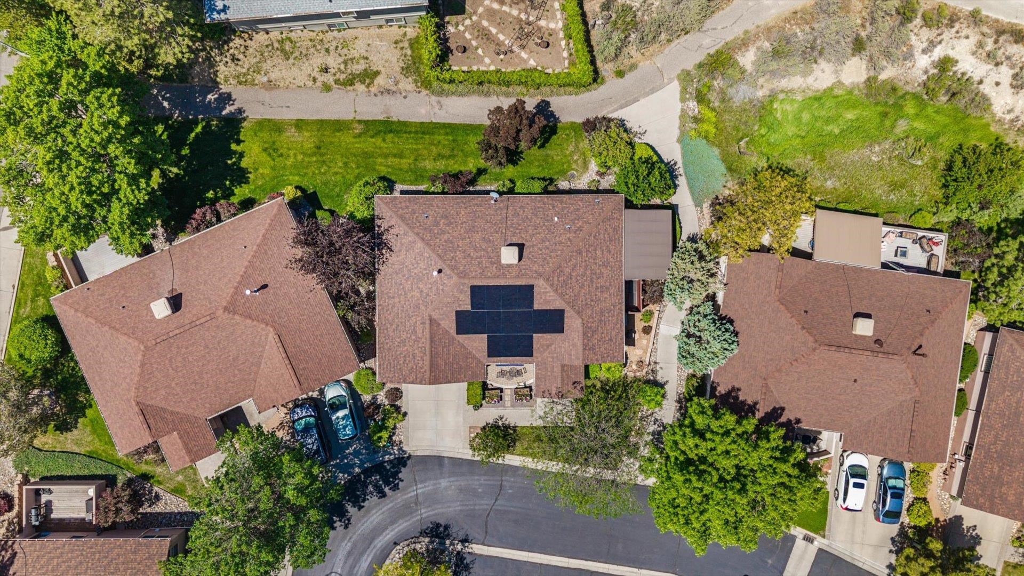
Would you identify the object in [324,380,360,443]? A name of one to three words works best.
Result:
car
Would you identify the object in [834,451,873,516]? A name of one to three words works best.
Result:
car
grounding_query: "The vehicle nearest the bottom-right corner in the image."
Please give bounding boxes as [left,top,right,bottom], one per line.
[871,458,911,527]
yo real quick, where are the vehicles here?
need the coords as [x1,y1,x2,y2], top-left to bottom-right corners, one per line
[295,397,335,467]
[871,458,911,527]
[834,451,873,516]
[324,380,360,443]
